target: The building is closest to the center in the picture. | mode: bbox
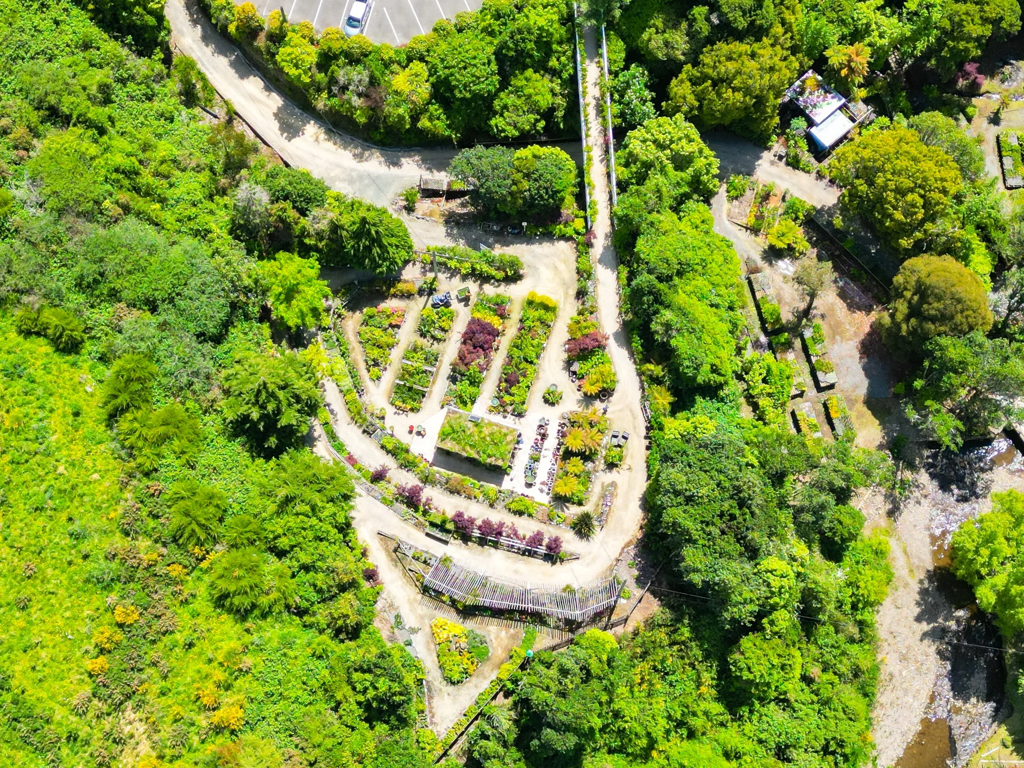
[437,407,522,474]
